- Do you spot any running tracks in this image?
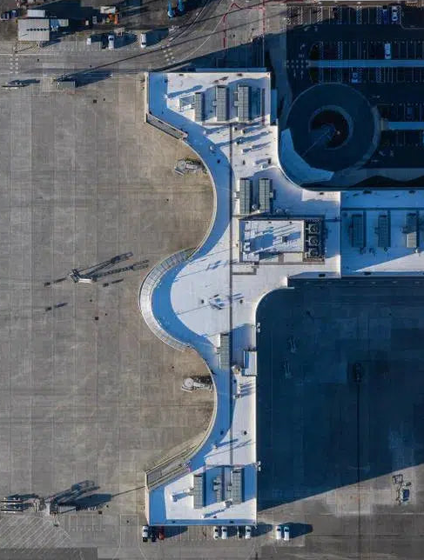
No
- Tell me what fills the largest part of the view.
paved ground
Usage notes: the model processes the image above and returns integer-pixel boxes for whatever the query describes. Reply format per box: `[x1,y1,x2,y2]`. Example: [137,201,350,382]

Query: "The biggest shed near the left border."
[18,19,50,41]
